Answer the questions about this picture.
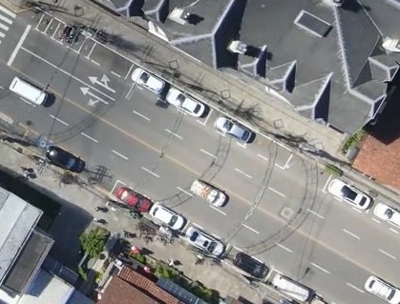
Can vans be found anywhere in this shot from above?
Yes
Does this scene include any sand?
No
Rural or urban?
urban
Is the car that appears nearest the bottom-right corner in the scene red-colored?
No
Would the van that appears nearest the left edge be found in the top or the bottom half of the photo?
top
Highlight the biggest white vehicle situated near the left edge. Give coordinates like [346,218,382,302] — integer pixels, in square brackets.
[4,74,50,108]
